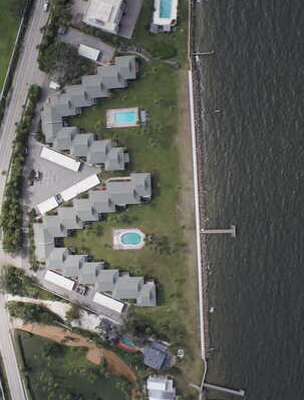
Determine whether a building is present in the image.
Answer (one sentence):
Yes, the image includes a building.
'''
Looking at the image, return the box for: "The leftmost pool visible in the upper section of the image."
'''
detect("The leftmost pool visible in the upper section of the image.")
[107,108,138,128]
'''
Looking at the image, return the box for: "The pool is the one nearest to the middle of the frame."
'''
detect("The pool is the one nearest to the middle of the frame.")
[114,228,145,249]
